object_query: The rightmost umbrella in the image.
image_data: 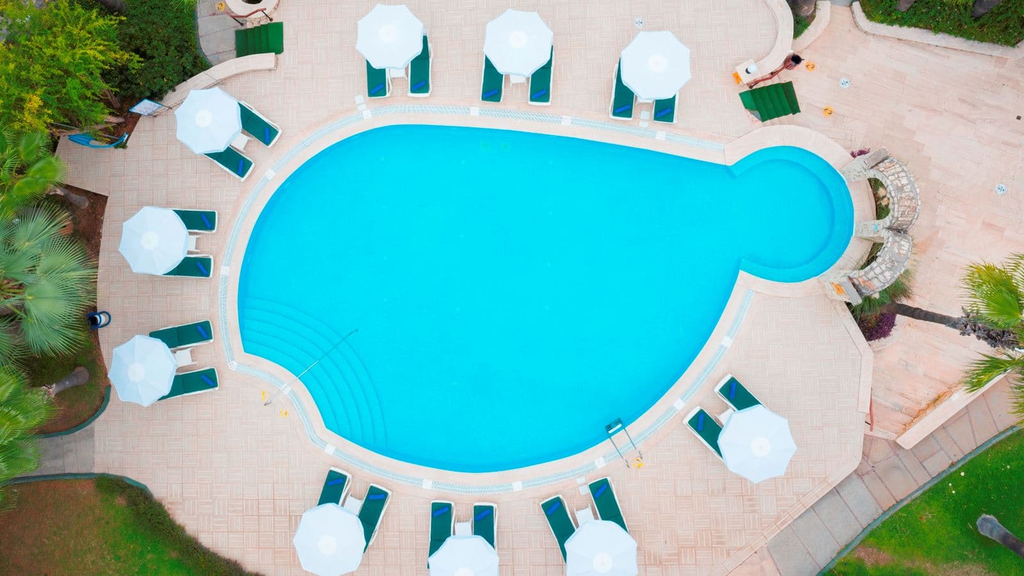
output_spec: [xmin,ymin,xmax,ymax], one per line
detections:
[717,404,797,483]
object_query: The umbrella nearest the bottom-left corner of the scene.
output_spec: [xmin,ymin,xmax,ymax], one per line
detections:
[106,336,176,405]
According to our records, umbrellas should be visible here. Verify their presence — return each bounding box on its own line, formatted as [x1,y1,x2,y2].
[293,502,367,576]
[485,7,553,76]
[356,4,422,70]
[106,336,176,405]
[622,32,688,99]
[430,538,497,576]
[717,404,797,483]
[567,520,635,576]
[120,207,191,276]
[176,88,242,153]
